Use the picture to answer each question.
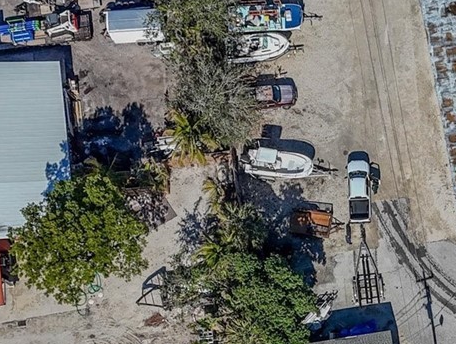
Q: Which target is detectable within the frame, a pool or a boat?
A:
boat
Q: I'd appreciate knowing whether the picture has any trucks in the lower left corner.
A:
No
